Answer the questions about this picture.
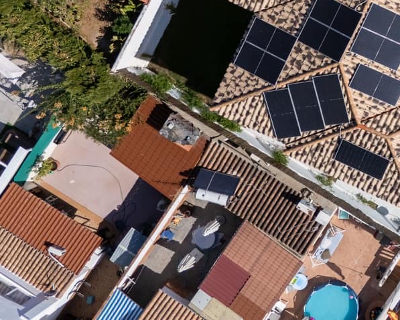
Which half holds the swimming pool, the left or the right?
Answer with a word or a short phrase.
right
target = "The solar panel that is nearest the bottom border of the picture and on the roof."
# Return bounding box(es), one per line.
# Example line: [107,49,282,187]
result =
[334,139,391,180]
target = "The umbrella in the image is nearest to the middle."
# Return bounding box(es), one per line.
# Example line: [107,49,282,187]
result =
[204,219,225,236]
